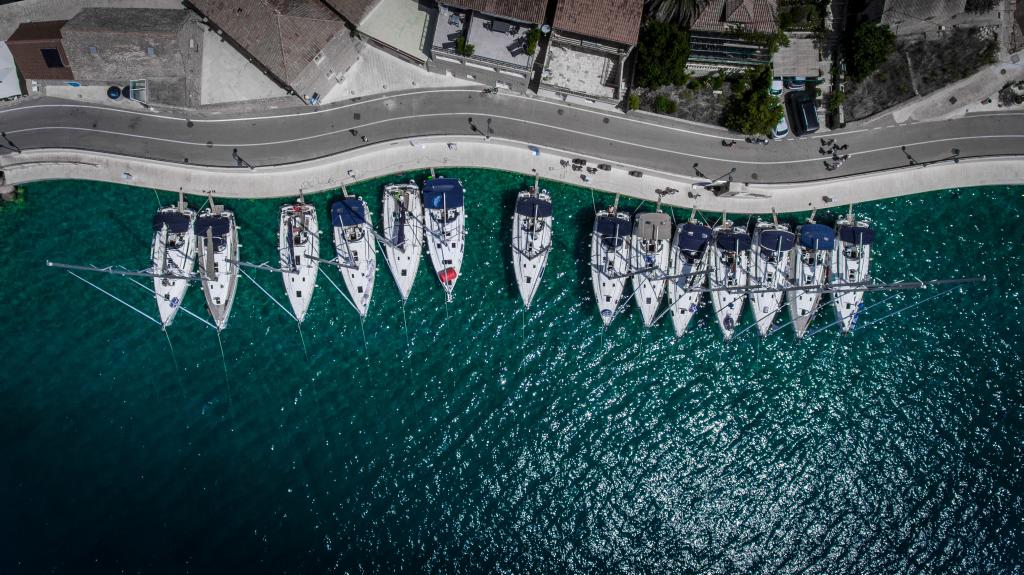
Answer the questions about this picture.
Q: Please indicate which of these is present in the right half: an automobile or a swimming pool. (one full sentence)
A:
The feature located in the right half is an automobile.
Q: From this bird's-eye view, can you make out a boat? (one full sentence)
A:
Yes, looking at the shot, I can spot a boat.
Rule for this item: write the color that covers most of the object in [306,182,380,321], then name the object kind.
white boat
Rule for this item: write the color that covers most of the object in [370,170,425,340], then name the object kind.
white boat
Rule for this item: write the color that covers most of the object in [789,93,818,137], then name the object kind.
black car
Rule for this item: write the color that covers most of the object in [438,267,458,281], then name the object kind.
red boat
